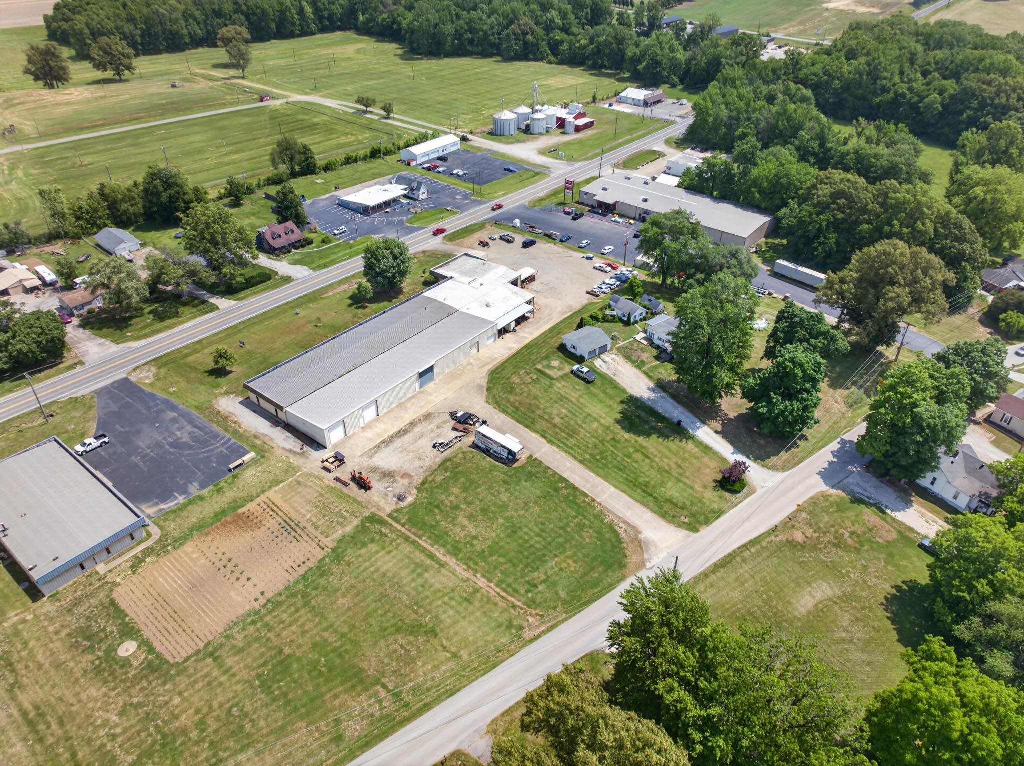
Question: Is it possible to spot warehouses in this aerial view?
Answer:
Yes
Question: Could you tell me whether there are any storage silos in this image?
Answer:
Yes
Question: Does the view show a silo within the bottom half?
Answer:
No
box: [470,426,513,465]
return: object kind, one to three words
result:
trailer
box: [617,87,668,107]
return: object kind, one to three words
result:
building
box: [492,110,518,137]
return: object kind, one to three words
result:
silo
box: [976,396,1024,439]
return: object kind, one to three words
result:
house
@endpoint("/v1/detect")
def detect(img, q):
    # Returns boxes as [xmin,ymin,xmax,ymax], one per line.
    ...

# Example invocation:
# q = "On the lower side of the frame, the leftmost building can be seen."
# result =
[0,430,146,595]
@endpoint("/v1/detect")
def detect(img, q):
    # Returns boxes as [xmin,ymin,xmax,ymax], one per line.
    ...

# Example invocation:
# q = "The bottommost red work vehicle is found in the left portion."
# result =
[355,471,373,489]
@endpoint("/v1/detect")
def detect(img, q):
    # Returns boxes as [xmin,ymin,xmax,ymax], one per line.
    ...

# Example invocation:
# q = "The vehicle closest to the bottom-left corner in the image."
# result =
[77,435,108,454]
